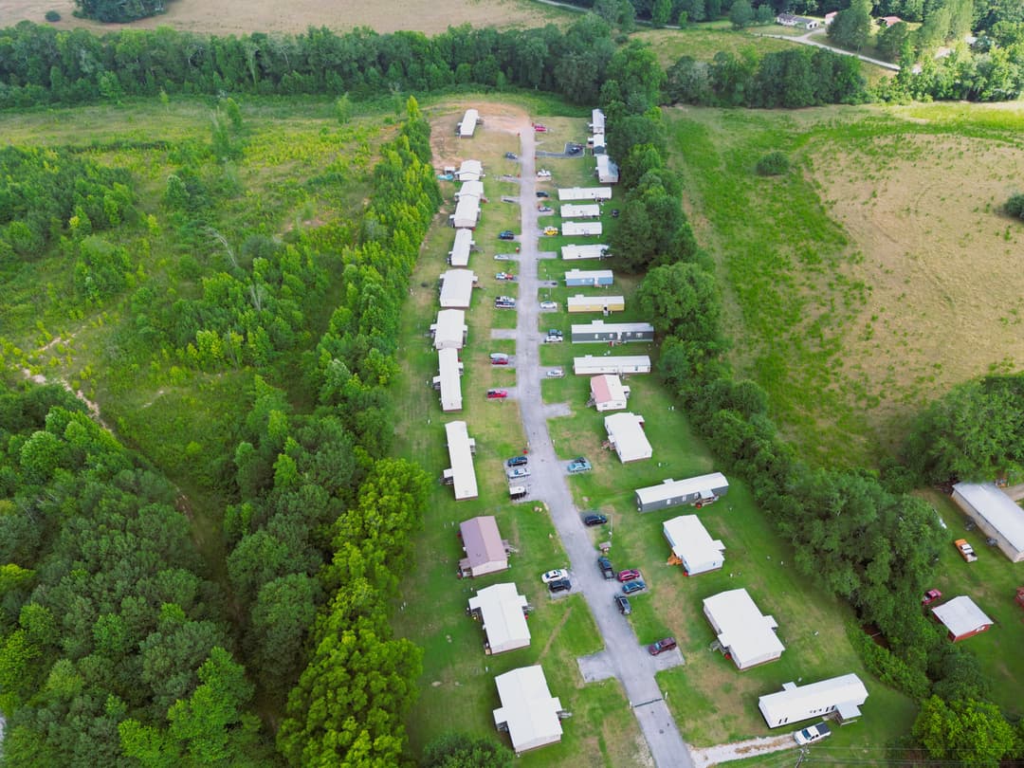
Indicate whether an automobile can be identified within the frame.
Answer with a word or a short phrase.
Yes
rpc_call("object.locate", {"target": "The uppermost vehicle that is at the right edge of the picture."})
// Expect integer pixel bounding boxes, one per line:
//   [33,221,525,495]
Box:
[950,538,983,564]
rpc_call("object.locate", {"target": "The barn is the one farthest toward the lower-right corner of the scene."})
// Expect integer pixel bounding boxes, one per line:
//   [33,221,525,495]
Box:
[928,596,994,643]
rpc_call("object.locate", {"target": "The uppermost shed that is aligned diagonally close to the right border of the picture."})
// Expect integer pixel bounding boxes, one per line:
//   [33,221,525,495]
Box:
[949,478,1024,561]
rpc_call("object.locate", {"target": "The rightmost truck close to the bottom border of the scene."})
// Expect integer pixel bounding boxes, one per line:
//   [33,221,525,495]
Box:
[794,721,834,744]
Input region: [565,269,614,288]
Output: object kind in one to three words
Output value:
house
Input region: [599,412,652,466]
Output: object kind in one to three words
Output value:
house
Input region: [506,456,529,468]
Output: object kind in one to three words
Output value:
vehicle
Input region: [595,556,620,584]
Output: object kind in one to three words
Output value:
truck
